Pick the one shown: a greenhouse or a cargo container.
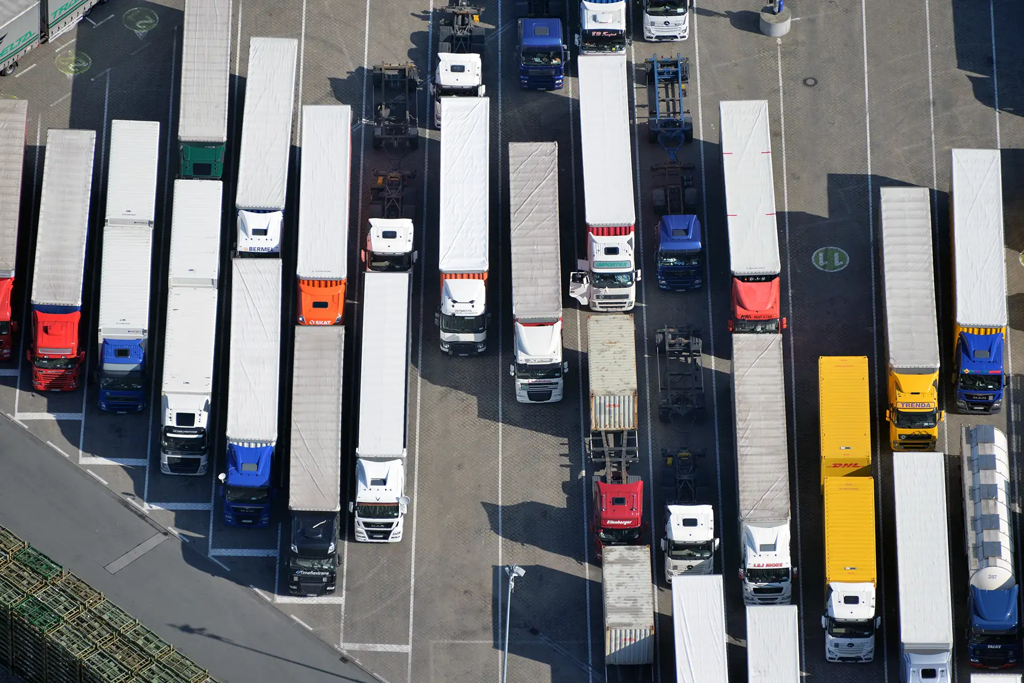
cargo container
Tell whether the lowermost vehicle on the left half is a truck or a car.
truck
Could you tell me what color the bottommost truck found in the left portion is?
black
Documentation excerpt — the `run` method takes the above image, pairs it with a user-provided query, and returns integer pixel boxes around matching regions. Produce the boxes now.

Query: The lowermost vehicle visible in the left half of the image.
[282,516,343,595]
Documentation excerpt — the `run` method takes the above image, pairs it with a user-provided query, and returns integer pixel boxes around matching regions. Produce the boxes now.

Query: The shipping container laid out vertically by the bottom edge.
[601,546,655,666]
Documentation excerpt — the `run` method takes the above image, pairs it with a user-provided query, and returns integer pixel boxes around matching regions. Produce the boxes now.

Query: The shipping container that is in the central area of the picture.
[586,315,638,433]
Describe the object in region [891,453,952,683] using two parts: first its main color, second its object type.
white trailer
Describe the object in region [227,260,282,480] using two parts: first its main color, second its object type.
white trailer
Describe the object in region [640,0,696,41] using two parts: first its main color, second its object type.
white truck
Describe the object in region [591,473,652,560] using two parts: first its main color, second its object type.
red truck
